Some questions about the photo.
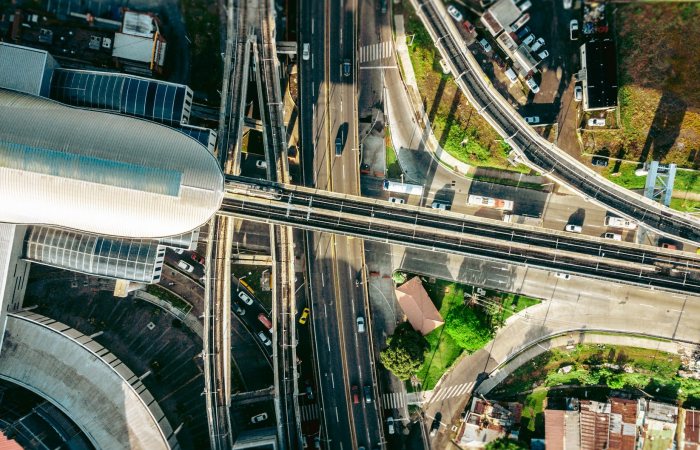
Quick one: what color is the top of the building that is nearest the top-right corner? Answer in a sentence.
The color of the roof on the building that is nearest the top-right corner is black.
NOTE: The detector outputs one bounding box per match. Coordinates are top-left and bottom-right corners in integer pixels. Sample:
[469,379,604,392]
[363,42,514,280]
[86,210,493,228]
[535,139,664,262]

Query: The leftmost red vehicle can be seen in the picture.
[190,252,205,265]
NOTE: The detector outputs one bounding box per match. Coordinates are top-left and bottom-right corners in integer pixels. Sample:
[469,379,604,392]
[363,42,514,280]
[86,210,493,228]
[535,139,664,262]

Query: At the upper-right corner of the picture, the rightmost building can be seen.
[574,38,617,111]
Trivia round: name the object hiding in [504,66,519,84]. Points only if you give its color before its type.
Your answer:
white vehicle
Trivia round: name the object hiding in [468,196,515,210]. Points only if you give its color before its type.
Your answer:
white vehicle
